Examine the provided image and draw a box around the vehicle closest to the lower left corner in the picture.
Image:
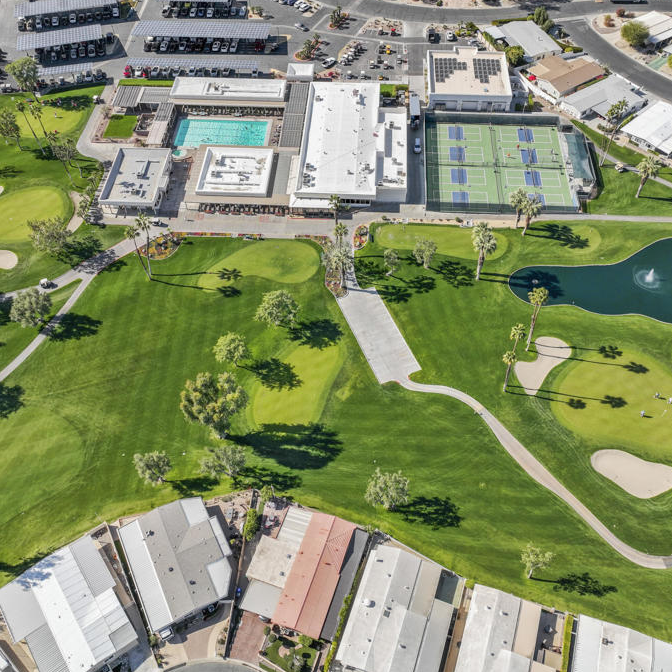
[158,625,179,649]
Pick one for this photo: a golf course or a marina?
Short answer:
golf course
